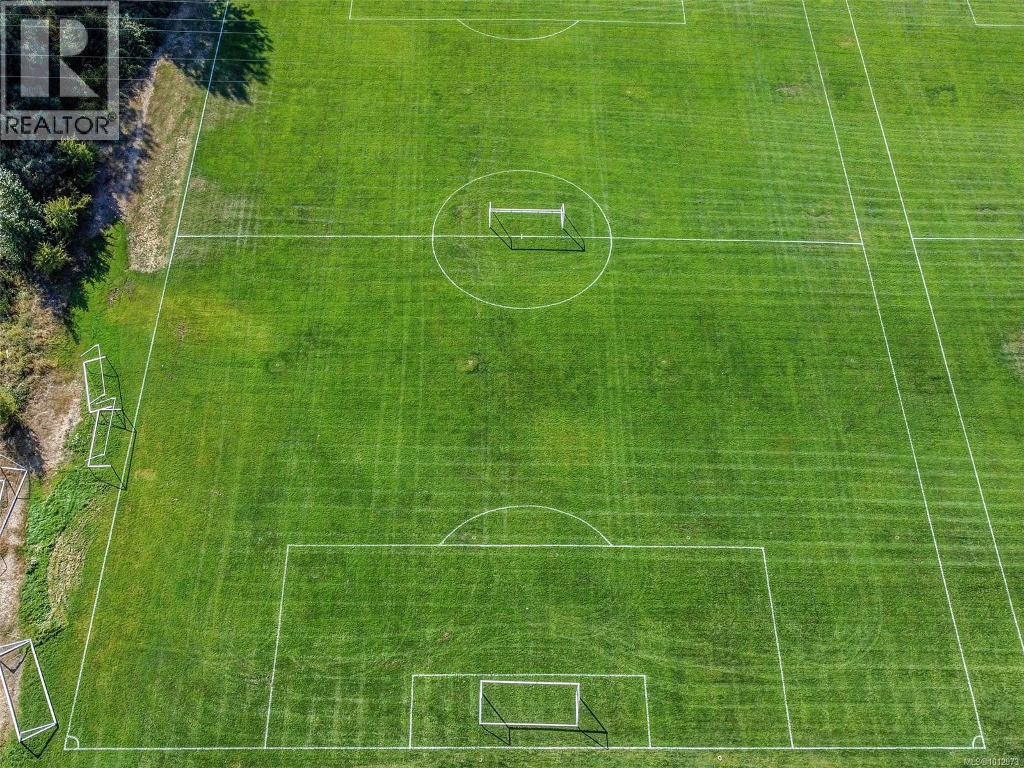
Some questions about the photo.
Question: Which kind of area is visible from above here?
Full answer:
The picture captures a sports ground.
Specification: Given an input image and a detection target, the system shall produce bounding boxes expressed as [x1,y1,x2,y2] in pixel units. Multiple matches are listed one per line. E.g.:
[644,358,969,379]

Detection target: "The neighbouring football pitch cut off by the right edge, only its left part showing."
[846,0,1024,631]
